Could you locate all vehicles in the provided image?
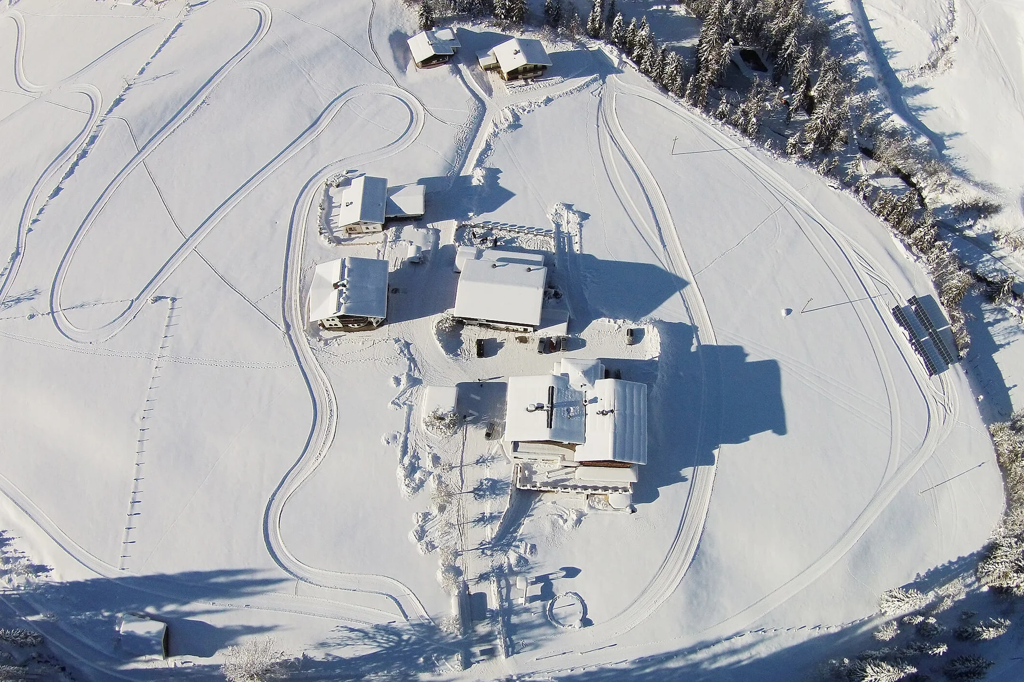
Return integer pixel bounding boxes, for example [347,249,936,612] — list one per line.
[626,328,634,346]
[614,365,623,380]
[559,335,567,352]
[475,338,485,359]
[605,365,612,379]
[484,421,497,442]
[537,336,547,355]
[549,336,558,353]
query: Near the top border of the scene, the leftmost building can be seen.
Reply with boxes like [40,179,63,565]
[408,28,461,79]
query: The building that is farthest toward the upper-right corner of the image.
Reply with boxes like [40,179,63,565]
[476,37,551,87]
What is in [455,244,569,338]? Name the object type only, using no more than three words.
barn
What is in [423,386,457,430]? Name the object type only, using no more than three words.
building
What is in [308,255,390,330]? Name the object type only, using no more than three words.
house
